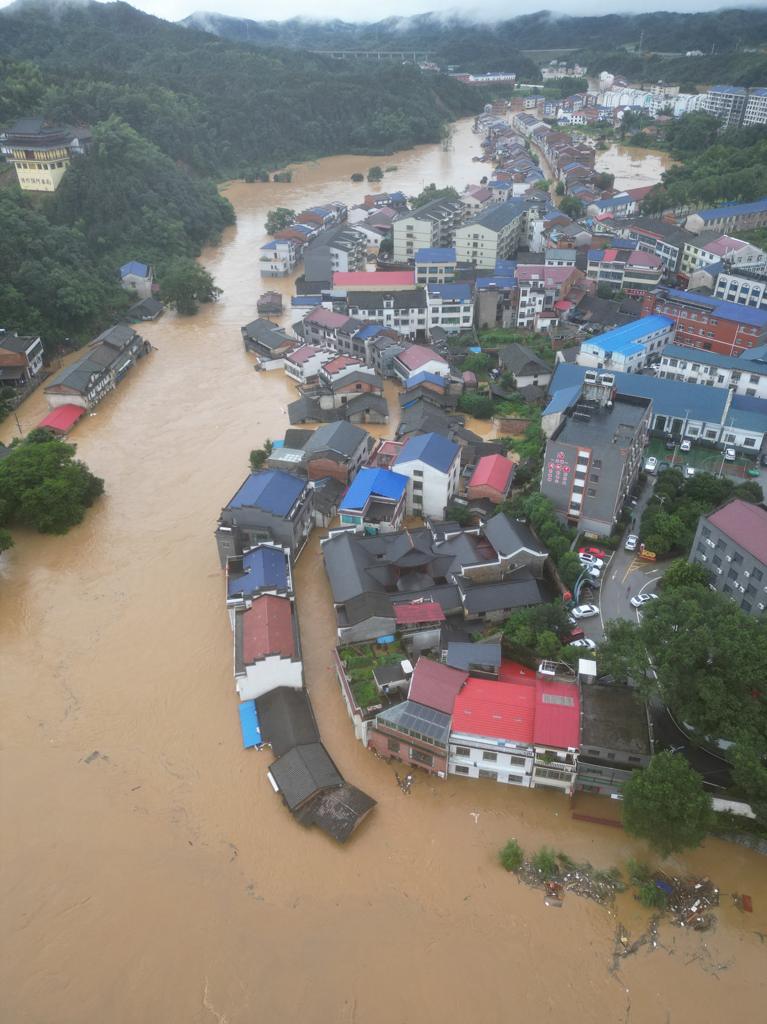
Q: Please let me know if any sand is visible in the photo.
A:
No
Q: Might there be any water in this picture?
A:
Yes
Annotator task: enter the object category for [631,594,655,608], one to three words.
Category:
car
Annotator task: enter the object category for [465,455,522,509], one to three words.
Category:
building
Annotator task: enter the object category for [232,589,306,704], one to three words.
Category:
house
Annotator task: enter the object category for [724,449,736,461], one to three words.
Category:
vehicle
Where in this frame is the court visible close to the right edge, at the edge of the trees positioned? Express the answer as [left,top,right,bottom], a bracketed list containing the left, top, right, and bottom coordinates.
[636,441,761,478]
